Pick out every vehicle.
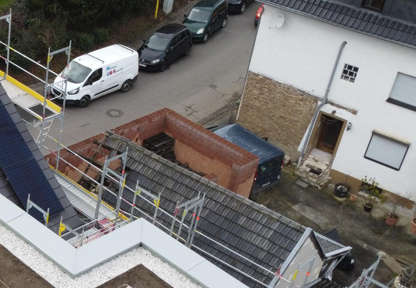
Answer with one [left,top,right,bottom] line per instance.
[205,118,287,191]
[233,0,252,14]
[176,0,234,43]
[49,40,142,107]
[134,20,196,72]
